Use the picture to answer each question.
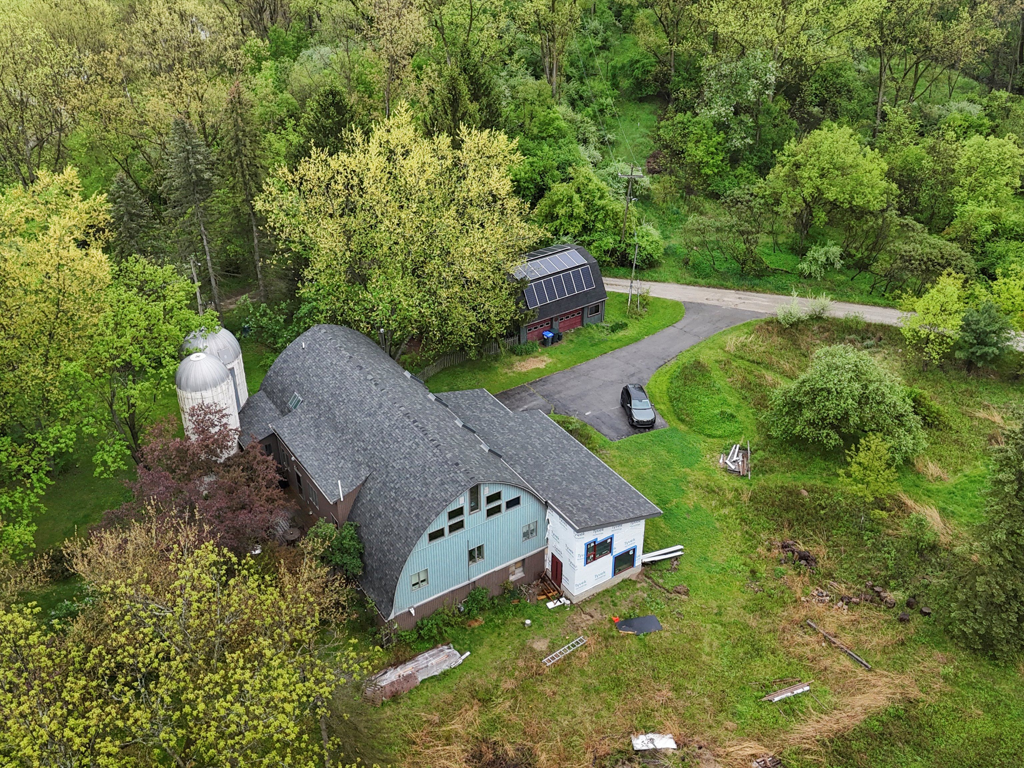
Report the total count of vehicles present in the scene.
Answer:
1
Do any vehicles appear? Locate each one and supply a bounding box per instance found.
[620,383,657,430]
